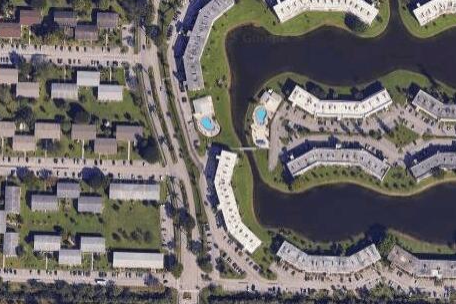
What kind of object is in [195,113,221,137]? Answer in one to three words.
swimming pool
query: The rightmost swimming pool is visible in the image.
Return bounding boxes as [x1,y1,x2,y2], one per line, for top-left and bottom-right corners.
[252,105,280,148]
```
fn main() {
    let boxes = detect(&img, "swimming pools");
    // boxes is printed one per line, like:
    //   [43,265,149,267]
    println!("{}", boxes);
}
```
[195,113,221,137]
[252,105,280,148]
